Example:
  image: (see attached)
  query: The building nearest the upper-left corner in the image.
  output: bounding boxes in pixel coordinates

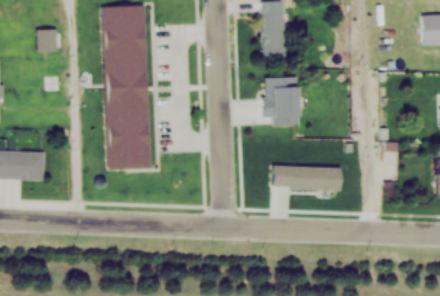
[36,30,58,52]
